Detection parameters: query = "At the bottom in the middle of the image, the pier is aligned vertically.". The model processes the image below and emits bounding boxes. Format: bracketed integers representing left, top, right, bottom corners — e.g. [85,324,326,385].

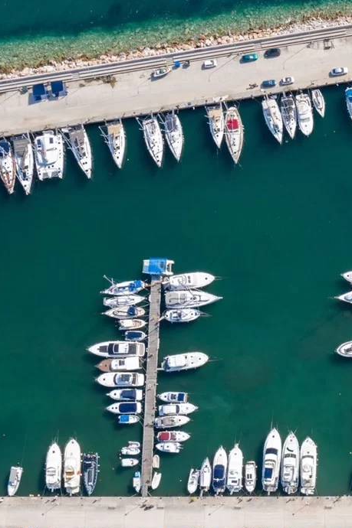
[140,276,162,498]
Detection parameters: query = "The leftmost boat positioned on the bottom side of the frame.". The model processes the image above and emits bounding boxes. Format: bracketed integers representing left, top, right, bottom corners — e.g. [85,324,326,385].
[8,467,23,496]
